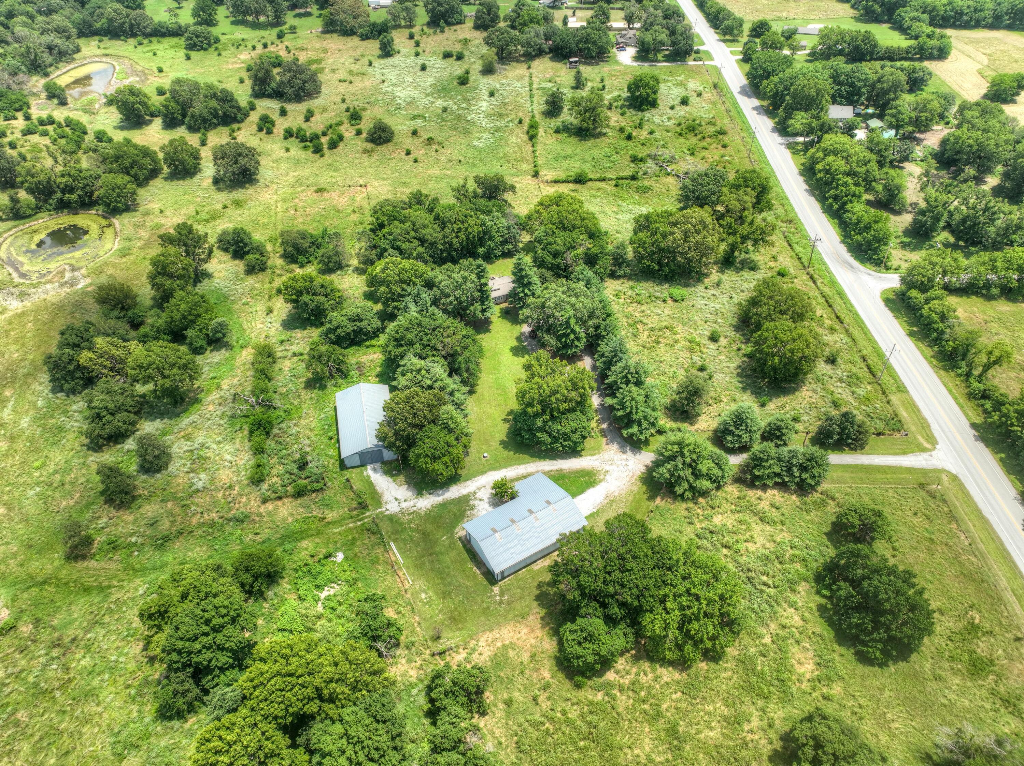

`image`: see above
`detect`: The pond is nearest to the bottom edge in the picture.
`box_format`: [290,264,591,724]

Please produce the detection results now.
[0,215,114,278]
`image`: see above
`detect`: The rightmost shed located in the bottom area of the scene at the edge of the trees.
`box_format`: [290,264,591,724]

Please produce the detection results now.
[462,472,588,583]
